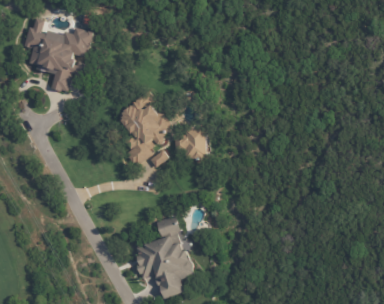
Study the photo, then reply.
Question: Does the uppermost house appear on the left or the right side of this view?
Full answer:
The uppermost house sits on the left side.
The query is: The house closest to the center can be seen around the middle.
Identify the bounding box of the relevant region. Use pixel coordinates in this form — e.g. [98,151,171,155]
[177,131,209,160]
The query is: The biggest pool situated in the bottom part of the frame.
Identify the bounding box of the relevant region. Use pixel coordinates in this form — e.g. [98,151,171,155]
[191,209,205,230]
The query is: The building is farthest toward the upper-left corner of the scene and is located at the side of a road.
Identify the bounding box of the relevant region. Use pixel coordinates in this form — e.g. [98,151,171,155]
[28,18,98,94]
